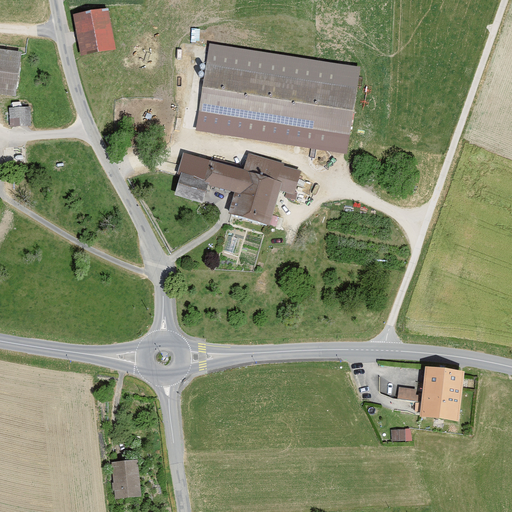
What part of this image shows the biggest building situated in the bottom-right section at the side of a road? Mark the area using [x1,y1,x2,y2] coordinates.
[420,366,464,421]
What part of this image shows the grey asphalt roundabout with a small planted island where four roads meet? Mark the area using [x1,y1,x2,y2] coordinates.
[134,329,192,387]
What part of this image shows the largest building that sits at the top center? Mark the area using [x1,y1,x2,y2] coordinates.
[196,44,362,154]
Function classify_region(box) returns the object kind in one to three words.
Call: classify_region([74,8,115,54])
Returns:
barn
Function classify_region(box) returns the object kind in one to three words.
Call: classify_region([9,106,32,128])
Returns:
shed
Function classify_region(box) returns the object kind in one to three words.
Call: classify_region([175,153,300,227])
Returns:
house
